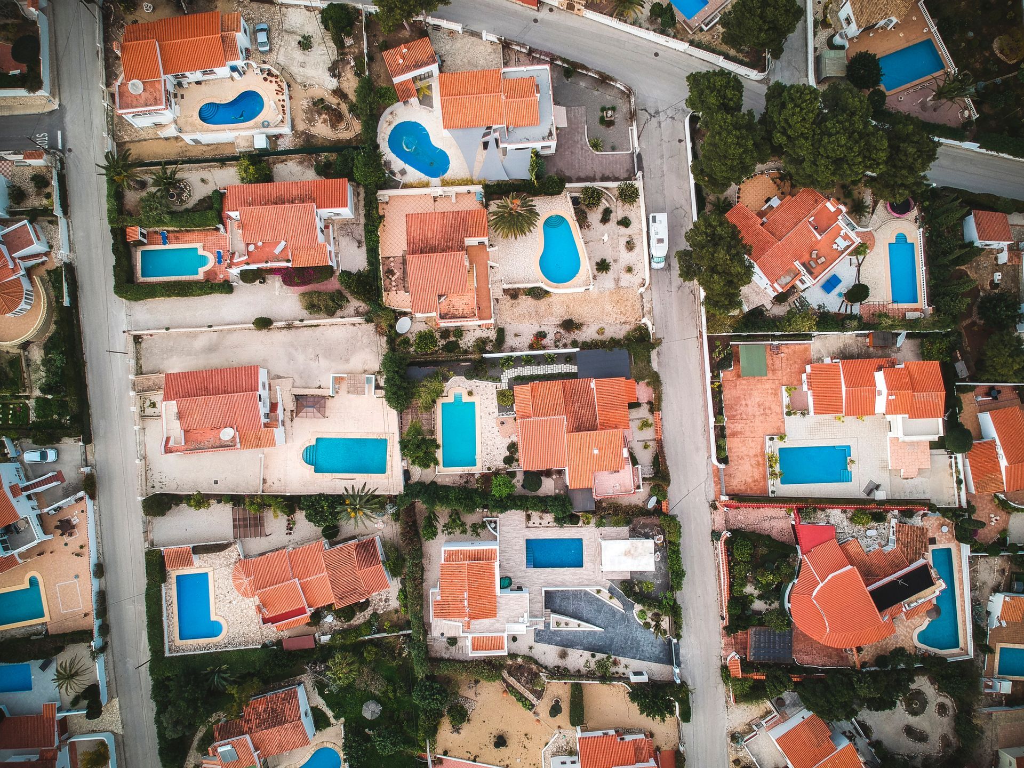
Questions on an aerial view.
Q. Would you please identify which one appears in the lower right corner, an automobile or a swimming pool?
swimming pool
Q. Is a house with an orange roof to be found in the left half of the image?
Yes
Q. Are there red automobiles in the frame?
No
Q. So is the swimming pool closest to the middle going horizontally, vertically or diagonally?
vertically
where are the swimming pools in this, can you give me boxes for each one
[386,118,452,180]
[439,388,481,471]
[884,227,923,307]
[995,643,1024,681]
[0,577,48,626]
[136,243,213,281]
[535,209,586,288]
[913,544,966,655]
[524,537,586,571]
[777,443,855,487]
[291,741,348,768]
[876,34,951,96]
[172,569,227,645]
[668,0,713,23]
[298,435,390,477]
[0,664,30,693]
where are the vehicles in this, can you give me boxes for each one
[23,448,60,465]
[648,211,670,270]
[253,22,272,55]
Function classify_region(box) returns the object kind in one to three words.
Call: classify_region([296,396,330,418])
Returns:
gazebo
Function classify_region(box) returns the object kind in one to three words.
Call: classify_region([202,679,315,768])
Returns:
house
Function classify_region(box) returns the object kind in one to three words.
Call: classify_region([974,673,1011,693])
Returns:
shed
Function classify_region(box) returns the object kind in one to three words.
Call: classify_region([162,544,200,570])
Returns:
building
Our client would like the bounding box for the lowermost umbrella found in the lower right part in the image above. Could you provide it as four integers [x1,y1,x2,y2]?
[924,603,940,618]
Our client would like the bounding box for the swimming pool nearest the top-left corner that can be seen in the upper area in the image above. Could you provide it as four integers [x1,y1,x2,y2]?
[193,84,269,130]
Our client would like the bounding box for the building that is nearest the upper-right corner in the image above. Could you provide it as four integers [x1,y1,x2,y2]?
[828,0,913,51]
